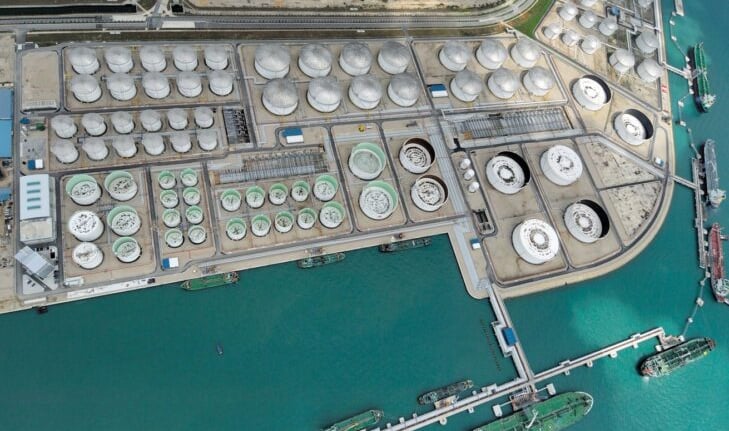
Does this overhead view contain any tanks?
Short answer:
Yes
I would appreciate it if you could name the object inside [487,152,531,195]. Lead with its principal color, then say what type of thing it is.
white storage tank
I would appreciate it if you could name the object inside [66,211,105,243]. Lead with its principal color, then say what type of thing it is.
white storage tank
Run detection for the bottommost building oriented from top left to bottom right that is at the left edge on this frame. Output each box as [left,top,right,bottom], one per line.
[16,246,58,280]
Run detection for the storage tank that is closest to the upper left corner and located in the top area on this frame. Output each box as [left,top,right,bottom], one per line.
[69,45,103,75]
